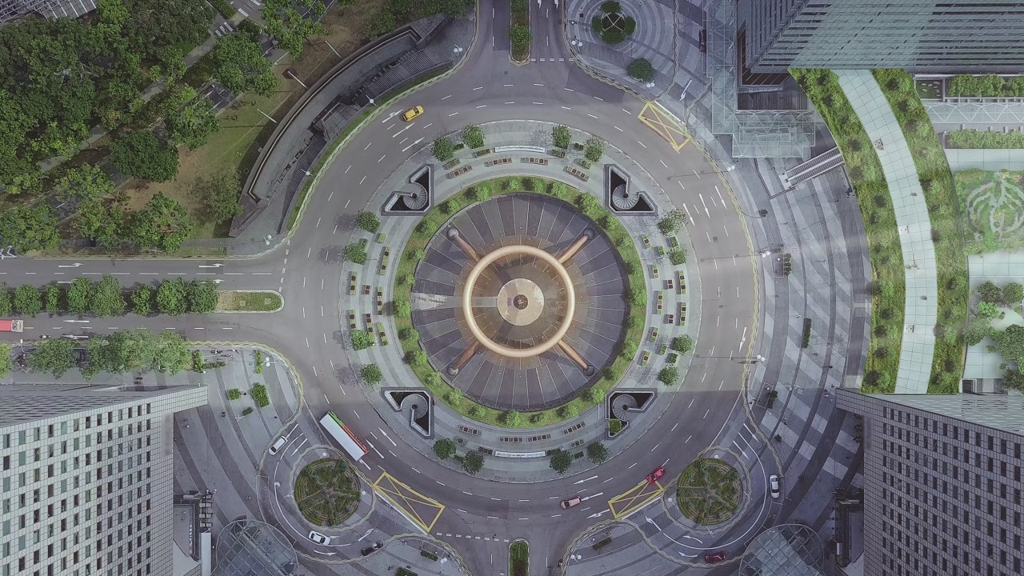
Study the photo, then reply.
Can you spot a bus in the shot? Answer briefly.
Yes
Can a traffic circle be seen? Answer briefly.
Yes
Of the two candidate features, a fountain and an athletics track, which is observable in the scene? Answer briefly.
fountain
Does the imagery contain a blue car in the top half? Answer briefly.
No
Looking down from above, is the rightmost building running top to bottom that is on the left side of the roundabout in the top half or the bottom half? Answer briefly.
bottom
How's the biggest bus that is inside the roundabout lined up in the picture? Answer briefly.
at an angle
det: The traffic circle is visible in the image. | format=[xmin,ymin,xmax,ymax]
[283,65,754,539]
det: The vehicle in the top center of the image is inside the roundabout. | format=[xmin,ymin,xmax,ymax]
[402,106,424,122]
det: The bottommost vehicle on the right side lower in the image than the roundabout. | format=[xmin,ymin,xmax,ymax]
[704,550,725,562]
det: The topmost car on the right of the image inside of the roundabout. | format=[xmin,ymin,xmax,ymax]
[646,466,666,482]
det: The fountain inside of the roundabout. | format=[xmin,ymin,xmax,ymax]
[410,192,630,411]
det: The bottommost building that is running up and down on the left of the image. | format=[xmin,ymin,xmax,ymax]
[174,494,212,576]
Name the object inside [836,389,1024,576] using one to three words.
building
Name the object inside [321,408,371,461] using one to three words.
bus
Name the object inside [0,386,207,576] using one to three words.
building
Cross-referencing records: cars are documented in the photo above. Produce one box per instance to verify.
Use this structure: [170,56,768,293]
[402,106,424,122]
[269,435,288,454]
[704,550,725,562]
[309,531,331,545]
[646,466,666,482]
[698,29,708,51]
[561,496,582,509]
[769,474,779,497]
[361,541,383,556]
